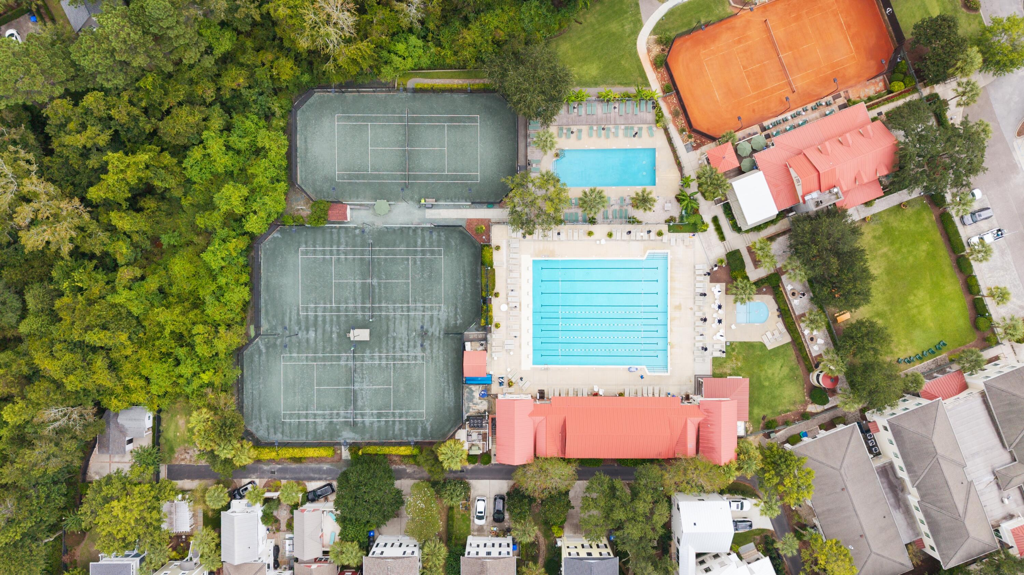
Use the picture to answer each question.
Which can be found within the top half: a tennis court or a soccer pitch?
tennis court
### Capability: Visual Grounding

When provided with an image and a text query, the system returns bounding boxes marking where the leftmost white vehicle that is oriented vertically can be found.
[473,496,487,525]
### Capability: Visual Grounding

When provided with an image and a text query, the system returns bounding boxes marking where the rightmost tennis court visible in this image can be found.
[670,0,894,135]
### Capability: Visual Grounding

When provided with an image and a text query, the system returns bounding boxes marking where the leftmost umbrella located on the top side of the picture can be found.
[374,199,390,216]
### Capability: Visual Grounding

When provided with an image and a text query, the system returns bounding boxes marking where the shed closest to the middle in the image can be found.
[464,351,486,377]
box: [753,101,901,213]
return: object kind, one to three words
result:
building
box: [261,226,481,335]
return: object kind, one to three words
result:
tennis court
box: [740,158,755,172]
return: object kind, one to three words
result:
umbrella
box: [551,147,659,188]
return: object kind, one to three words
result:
swimming pool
